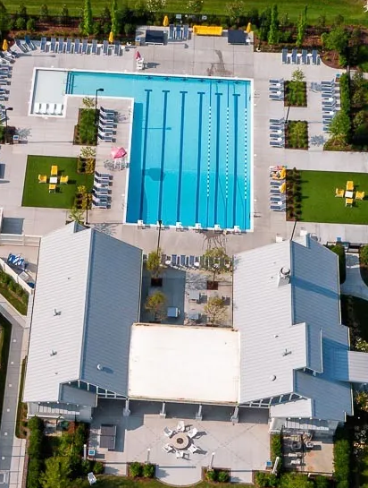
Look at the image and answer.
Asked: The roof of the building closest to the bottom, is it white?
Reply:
Yes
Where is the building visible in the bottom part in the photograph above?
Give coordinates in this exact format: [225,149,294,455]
[20,223,368,442]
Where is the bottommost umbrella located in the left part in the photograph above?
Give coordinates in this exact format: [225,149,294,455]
[105,144,123,159]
